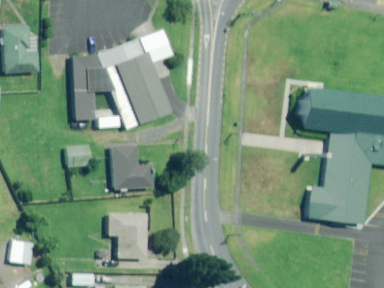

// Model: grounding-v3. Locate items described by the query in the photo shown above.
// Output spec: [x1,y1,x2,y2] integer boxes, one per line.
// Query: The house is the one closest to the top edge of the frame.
[2,26,40,75]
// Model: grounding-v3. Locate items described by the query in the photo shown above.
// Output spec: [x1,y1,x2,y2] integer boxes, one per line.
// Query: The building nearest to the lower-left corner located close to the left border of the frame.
[6,239,34,266]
